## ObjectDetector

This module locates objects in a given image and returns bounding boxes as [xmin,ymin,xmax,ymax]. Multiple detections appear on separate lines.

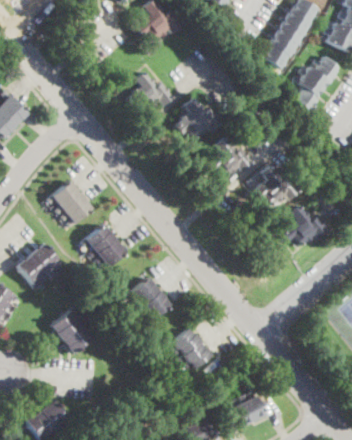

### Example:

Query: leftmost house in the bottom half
[0,284,21,328]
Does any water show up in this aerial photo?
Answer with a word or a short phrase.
No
